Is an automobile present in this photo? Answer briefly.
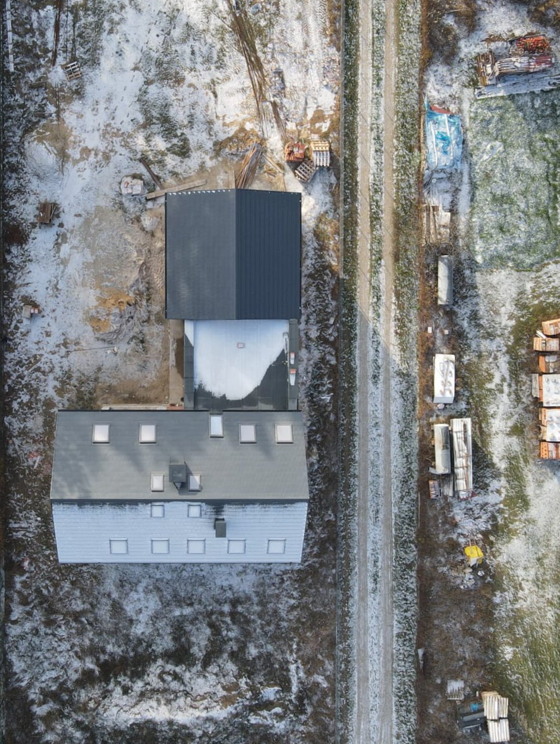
No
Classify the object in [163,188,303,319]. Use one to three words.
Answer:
building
